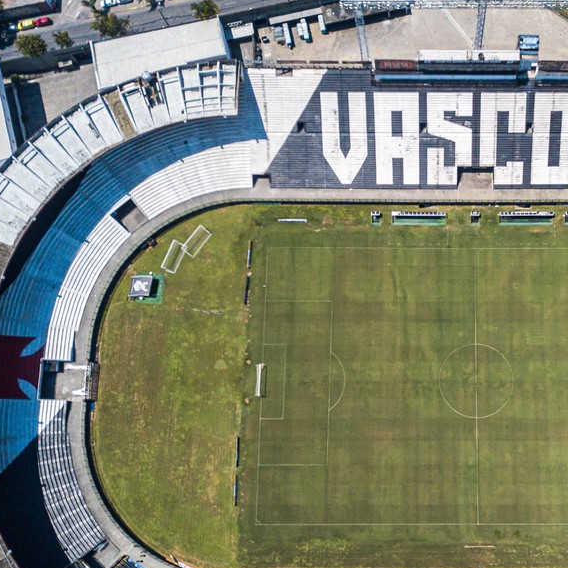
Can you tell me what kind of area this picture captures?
sports ground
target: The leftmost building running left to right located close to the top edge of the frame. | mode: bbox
[89,16,232,92]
